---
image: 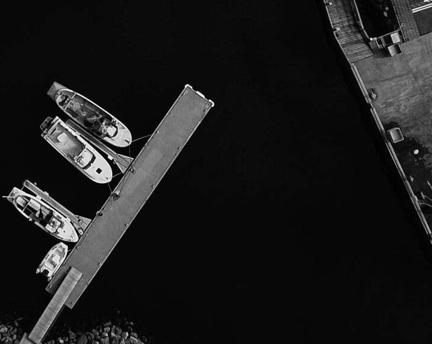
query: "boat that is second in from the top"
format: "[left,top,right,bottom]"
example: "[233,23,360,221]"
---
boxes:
[40,117,113,184]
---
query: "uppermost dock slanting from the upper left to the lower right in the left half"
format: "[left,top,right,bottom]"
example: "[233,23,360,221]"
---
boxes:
[66,119,134,174]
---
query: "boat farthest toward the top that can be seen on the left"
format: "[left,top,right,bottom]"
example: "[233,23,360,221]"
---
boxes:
[47,82,132,148]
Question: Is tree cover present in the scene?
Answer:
No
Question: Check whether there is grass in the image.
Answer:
No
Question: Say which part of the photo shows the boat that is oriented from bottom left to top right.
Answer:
bottom left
